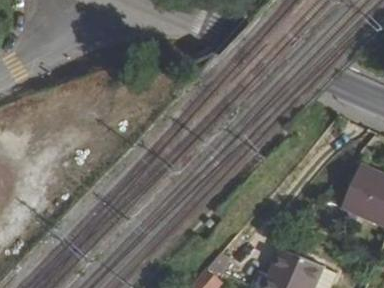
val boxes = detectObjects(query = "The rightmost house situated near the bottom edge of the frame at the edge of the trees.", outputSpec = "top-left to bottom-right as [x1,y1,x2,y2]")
[258,248,326,288]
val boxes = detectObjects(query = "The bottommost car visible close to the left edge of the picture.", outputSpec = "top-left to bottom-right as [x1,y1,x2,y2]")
[4,32,16,51]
